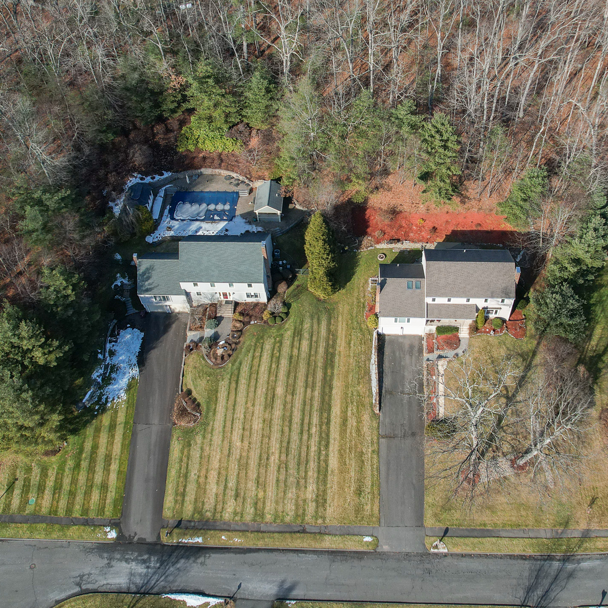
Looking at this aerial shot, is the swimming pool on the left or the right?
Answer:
left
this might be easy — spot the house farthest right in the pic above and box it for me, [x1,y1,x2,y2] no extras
[373,250,522,337]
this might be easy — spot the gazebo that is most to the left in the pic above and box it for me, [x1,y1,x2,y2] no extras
[124,186,155,218]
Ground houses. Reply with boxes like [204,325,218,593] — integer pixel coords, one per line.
[132,234,273,321]
[373,250,522,337]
